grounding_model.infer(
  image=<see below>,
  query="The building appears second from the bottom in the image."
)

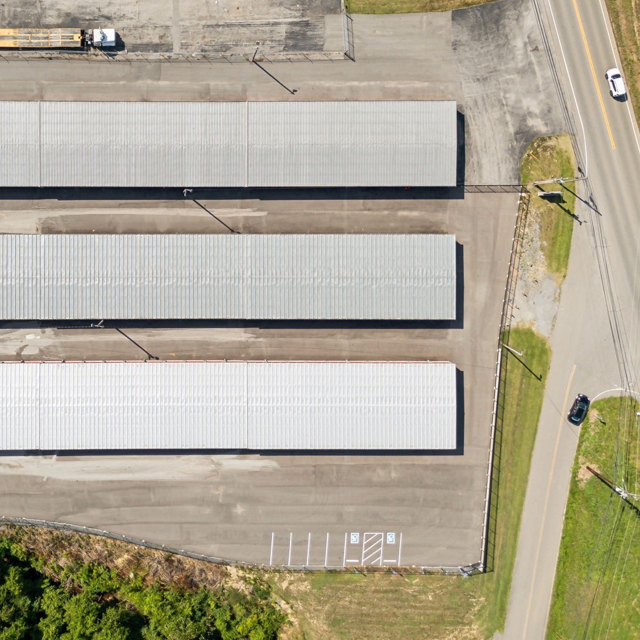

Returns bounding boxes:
[0,233,457,321]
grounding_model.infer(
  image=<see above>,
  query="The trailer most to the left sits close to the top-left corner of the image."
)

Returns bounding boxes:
[0,28,94,48]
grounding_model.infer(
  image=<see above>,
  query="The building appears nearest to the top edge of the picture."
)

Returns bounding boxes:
[0,99,457,189]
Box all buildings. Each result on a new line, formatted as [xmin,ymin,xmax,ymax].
[0,99,457,189]
[0,359,457,451]
[0,233,457,321]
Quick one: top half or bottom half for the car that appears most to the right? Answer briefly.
top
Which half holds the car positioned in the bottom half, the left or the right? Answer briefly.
right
